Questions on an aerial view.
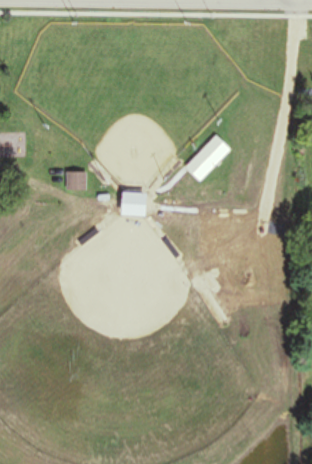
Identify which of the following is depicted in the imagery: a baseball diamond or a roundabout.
baseball diamond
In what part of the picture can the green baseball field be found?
top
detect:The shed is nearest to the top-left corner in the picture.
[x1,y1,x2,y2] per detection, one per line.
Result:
[66,172,87,191]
